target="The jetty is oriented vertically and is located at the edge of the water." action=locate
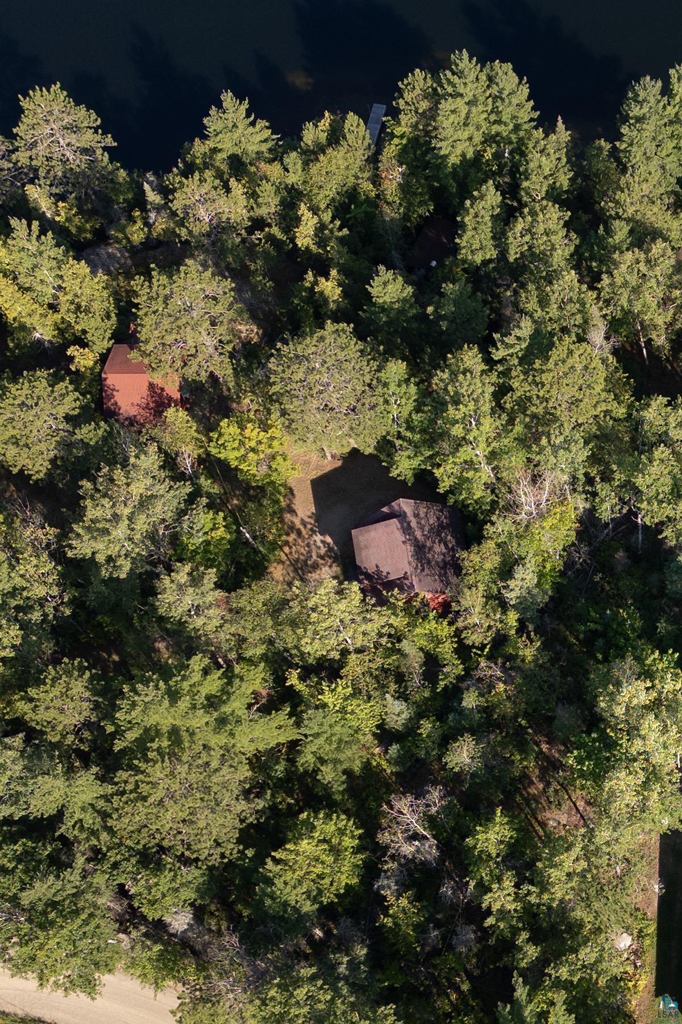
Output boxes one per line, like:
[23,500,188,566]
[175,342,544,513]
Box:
[363,104,386,171]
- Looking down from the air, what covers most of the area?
trees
